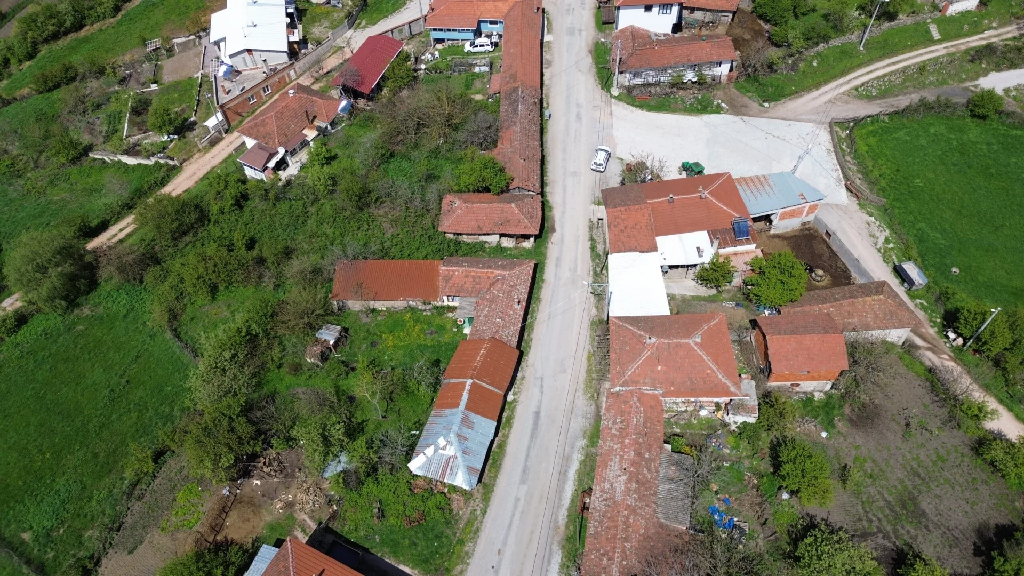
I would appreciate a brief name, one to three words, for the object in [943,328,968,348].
work vehicle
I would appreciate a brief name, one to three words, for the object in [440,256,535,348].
house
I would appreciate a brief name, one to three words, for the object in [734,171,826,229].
barn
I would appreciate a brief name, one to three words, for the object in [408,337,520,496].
shed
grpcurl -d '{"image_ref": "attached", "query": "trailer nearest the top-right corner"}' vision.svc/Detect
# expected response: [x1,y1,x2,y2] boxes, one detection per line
[896,257,939,292]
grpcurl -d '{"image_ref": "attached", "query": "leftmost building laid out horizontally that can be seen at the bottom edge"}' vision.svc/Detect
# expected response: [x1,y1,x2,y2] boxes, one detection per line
[260,529,363,576]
